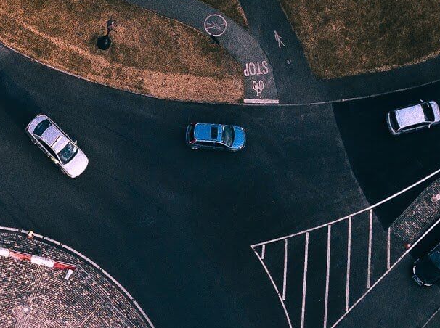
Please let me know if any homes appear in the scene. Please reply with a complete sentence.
No, I can't see a single home in this photo.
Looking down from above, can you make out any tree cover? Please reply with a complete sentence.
No, the scene doesn't show any tree cover.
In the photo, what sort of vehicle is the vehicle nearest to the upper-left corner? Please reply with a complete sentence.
I'd say the vehicle nearest to the upper-left corner is an automobile.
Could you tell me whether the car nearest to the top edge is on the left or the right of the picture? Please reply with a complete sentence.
You can find the car nearest to the top edge on the right side of the picture.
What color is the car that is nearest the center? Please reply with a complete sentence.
The car that is nearest the center looks blue in the image.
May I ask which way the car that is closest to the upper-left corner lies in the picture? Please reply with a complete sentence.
The car that is closest to the upper-left corner is oriented on a diagonal.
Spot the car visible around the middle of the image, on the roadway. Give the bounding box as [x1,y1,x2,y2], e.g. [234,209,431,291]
[186,120,246,153]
